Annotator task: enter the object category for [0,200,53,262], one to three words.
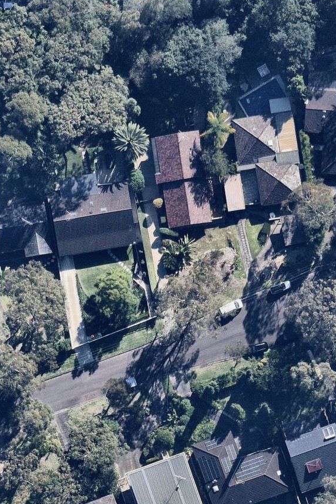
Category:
house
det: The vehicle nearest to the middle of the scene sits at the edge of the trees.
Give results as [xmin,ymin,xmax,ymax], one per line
[217,301,243,315]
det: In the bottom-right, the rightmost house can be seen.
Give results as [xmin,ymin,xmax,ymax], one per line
[286,423,336,493]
